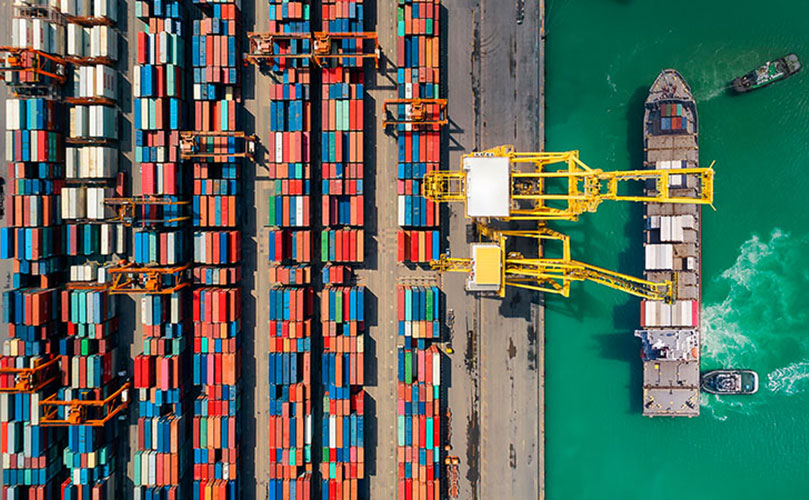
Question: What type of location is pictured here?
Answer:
port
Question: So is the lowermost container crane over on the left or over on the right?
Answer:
left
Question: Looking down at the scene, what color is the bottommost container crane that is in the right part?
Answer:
yellow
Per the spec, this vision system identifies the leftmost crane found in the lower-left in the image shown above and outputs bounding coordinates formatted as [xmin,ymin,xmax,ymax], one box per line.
[0,349,63,395]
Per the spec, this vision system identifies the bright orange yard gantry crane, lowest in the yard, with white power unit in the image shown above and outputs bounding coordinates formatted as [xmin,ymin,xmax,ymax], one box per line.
[38,378,131,427]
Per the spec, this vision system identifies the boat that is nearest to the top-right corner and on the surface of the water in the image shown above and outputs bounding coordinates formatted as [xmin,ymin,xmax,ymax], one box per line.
[729,53,800,96]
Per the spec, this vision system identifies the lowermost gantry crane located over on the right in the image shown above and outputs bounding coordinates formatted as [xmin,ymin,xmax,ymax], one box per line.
[425,220,670,302]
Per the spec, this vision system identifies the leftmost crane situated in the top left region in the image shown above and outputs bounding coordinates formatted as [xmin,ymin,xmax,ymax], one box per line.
[0,43,70,85]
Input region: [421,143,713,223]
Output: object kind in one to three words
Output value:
container crane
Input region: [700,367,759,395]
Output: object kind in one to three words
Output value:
boat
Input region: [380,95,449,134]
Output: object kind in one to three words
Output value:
container crane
